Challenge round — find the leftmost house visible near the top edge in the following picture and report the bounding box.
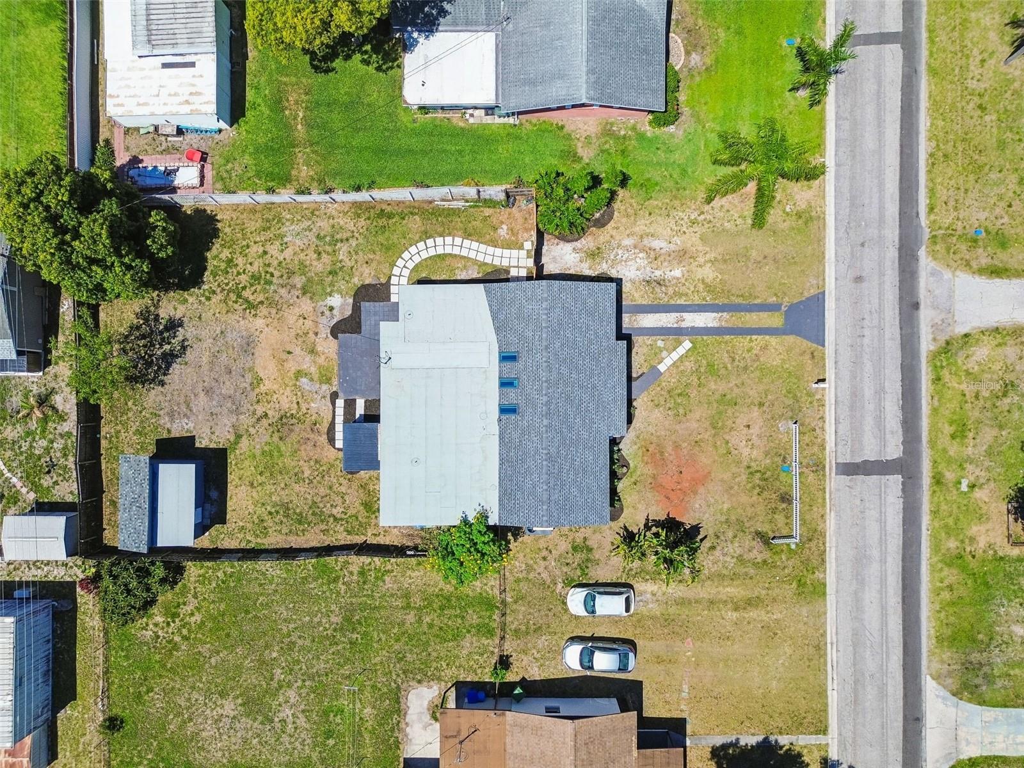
[104,0,240,127]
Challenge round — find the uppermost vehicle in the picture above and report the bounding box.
[567,586,635,622]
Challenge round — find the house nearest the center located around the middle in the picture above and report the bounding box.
[343,280,628,528]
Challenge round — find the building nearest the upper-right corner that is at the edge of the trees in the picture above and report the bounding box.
[392,0,666,119]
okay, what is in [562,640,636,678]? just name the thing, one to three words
car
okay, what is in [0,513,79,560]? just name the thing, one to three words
shed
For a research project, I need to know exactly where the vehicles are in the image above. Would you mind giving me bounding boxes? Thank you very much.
[562,640,636,678]
[567,586,635,622]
